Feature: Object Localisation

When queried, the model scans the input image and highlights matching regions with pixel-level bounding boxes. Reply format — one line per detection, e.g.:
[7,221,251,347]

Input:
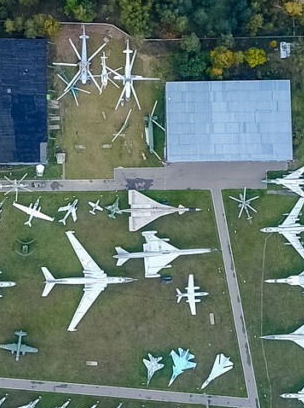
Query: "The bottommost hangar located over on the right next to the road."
[163,80,293,163]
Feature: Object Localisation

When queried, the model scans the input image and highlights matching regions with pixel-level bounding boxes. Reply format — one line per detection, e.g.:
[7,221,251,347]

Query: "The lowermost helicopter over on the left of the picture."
[0,174,32,201]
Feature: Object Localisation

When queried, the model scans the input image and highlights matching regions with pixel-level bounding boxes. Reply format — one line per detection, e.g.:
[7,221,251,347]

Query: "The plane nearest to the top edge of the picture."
[264,165,304,199]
